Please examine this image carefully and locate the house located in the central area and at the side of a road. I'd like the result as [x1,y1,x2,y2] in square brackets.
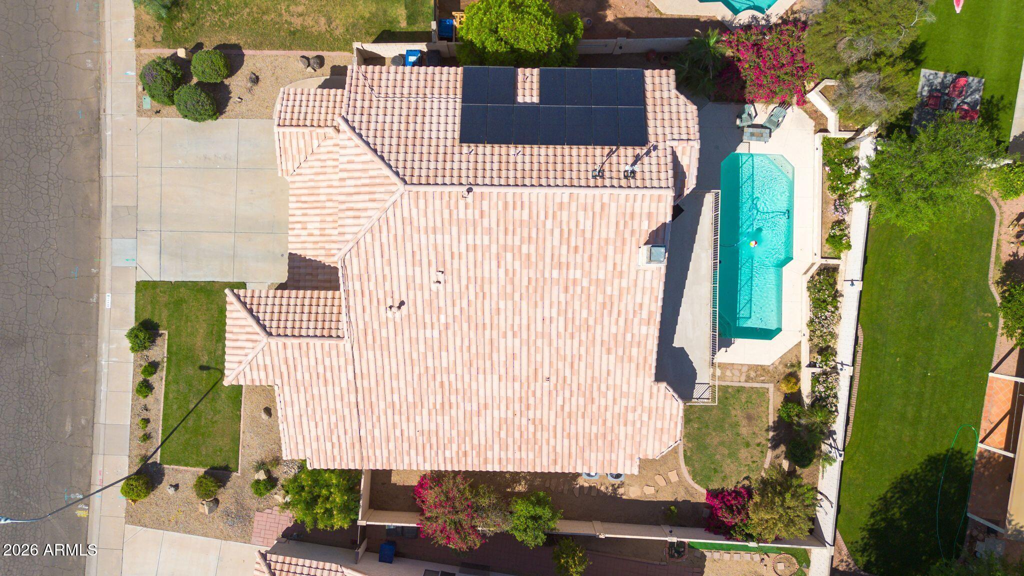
[221,65,721,475]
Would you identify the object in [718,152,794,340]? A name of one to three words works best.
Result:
swimming pool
